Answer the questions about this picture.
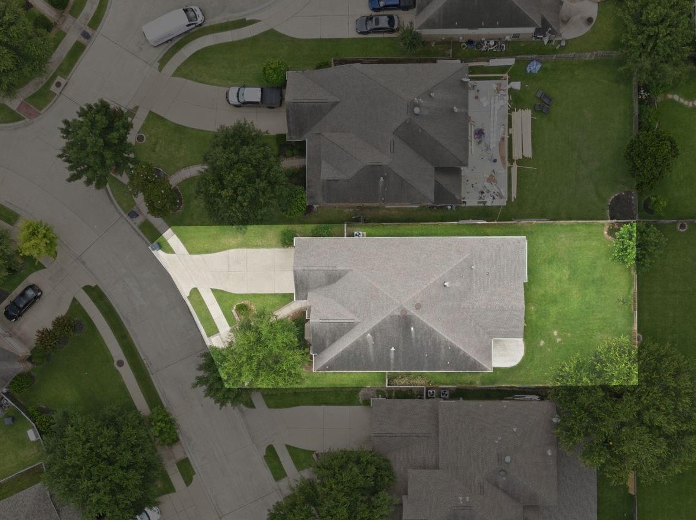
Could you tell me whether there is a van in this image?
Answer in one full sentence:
Yes, the picture does show a van.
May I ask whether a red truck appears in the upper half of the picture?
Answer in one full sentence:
No, no red truck is visible in the upper half of the picture.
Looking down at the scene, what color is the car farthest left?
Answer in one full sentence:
The color of the car farthest left is black.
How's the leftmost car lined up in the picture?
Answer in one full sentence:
Seen from above, the leftmost car lies diagonally.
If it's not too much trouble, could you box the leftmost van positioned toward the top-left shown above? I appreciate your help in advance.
[137,5,204,48]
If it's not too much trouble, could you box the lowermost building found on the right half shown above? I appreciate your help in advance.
[370,398,598,520]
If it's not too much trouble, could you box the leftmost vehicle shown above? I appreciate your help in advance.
[1,279,44,326]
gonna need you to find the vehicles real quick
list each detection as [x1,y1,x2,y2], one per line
[1,279,44,326]
[367,0,414,13]
[123,505,164,520]
[354,13,401,35]
[137,5,204,48]
[226,84,284,109]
